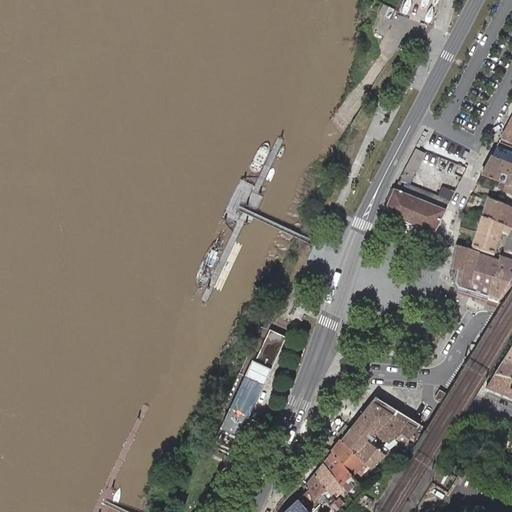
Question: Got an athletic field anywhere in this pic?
No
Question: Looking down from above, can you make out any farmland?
No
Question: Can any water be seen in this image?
Yes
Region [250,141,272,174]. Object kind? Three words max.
boat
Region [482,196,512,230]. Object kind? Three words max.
house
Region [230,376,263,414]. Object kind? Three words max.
building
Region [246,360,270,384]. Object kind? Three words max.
building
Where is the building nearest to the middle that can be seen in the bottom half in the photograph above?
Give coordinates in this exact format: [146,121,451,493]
[256,330,284,368]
